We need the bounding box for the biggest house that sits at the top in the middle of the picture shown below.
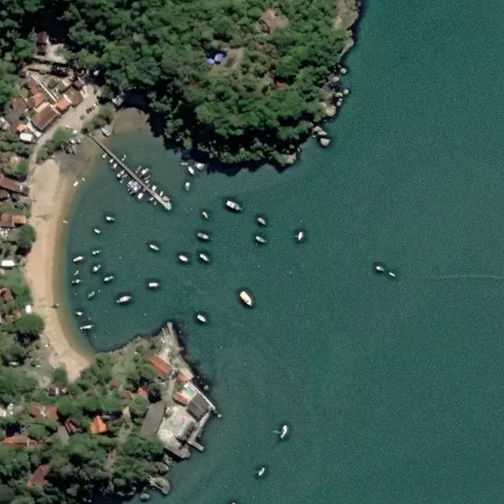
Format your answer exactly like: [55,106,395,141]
[259,9,283,33]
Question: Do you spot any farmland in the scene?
No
